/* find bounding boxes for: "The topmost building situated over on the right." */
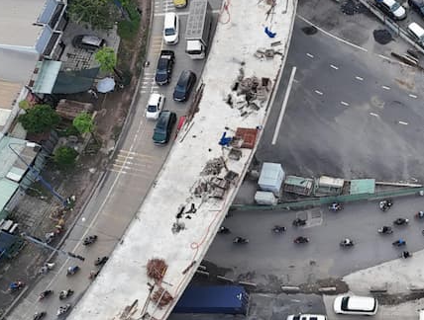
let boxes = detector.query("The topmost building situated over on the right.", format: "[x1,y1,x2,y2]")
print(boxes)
[258,162,288,197]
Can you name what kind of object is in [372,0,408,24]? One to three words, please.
truck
